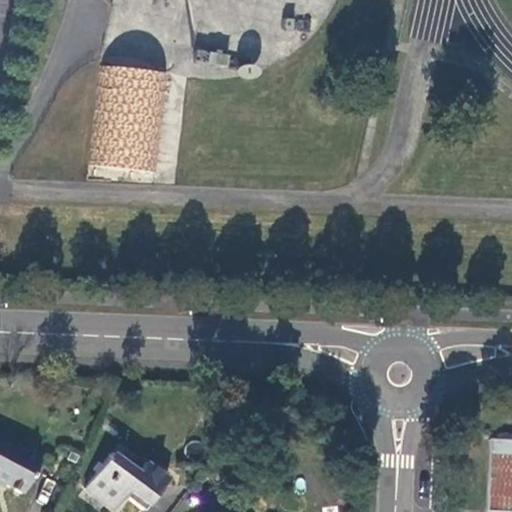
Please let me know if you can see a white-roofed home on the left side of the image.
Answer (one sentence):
Yes, a white-roofed home can be seen on the left side of the image.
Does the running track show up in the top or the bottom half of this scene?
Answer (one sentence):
Seen from above, the running track lies in the top half of the view.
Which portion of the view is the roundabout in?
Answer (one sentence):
Look in the bottom right portion of the view to spot the roundabout.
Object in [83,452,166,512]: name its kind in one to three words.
house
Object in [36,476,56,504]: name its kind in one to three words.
vehicle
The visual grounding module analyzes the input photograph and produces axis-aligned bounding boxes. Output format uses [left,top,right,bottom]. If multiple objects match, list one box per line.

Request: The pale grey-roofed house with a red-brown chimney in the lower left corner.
[0,448,42,499]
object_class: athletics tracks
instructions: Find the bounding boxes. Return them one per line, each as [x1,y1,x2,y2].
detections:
[410,0,512,83]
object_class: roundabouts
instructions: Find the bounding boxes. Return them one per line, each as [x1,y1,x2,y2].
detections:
[352,326,448,420]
